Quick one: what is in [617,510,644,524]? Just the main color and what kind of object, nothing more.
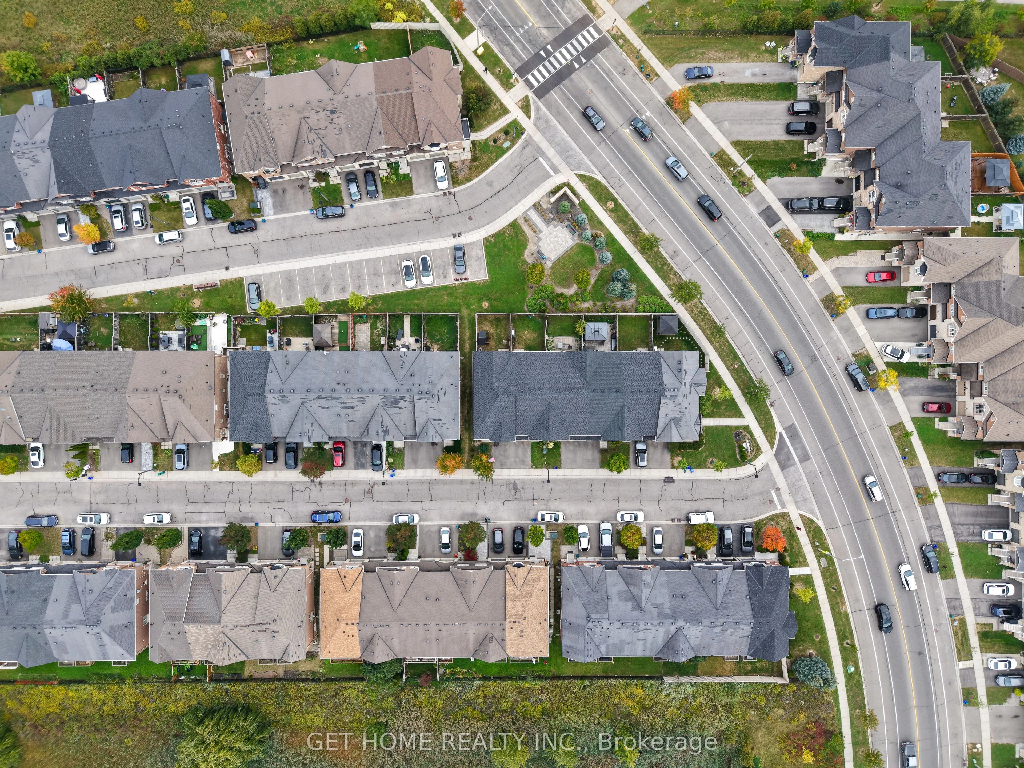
white car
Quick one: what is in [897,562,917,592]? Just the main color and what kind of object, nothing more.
white car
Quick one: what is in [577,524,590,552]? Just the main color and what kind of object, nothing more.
white vehicle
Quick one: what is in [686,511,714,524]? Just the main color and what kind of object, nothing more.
white vehicle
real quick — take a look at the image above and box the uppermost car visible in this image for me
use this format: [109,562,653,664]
[685,65,714,80]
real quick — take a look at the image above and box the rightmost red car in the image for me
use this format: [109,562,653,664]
[921,401,951,414]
